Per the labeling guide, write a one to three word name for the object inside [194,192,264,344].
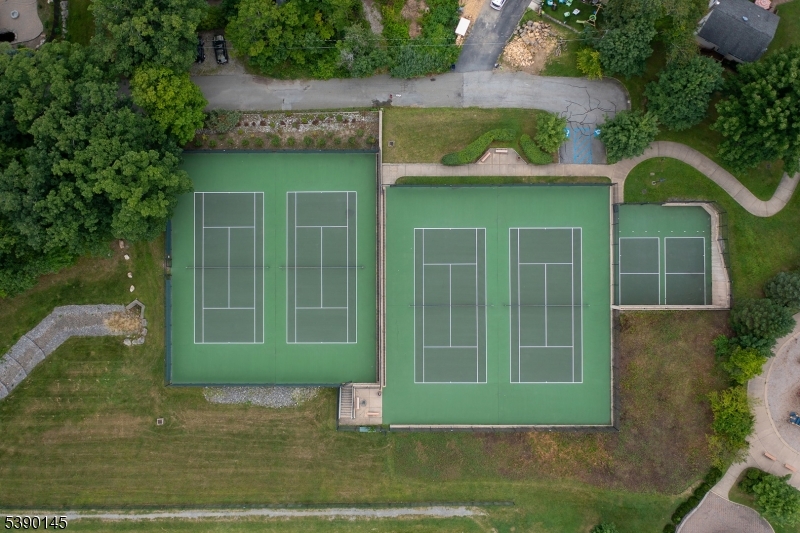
tennis court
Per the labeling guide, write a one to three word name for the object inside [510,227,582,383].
tennis court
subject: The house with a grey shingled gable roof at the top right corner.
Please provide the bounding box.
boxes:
[687,0,773,69]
